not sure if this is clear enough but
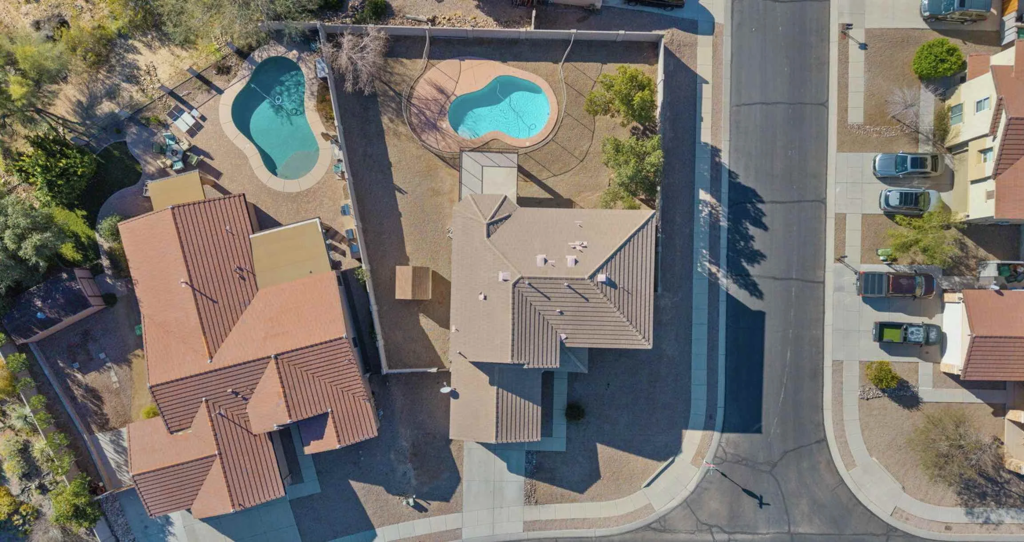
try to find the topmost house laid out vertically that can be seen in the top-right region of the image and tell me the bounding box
[944,39,1024,222]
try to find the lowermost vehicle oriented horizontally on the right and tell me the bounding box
[865,317,942,349]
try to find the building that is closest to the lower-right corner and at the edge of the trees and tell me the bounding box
[940,290,1024,381]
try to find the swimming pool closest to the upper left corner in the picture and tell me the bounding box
[220,45,331,191]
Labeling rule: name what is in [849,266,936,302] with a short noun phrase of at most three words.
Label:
truck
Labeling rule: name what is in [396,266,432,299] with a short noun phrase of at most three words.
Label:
shed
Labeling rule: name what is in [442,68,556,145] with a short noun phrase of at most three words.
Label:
swimming pool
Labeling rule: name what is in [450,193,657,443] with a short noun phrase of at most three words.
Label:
house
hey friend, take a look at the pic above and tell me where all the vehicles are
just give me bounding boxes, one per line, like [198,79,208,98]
[869,148,940,181]
[873,186,941,218]
[849,266,936,302]
[916,0,994,20]
[865,317,942,349]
